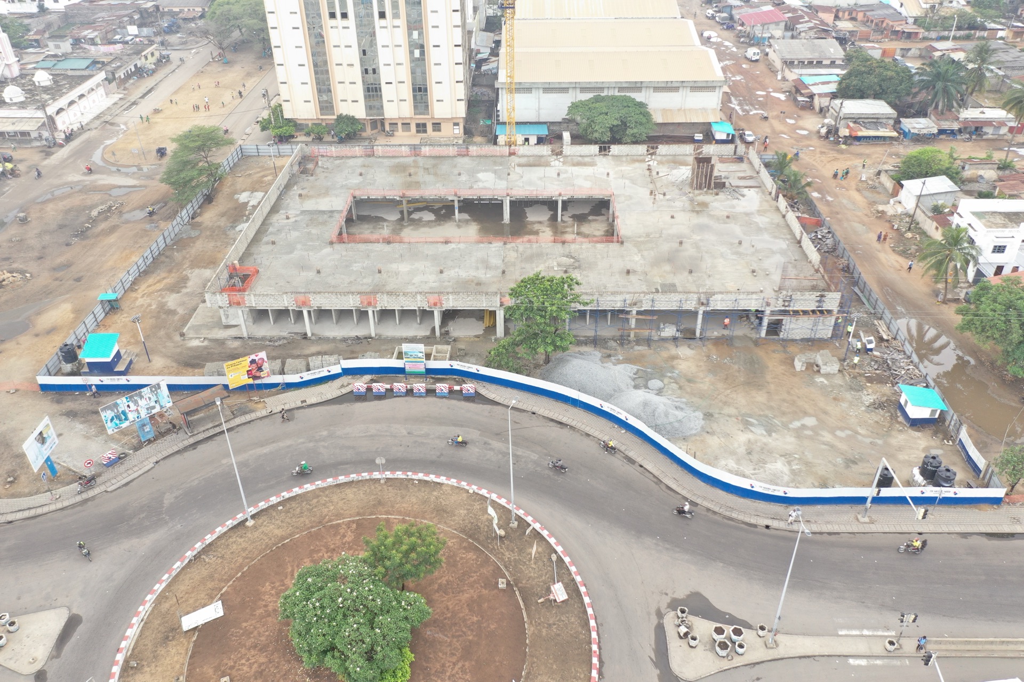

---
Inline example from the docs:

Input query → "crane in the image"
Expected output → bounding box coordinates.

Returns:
[492,0,530,155]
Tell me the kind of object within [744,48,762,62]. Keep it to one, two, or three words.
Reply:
vehicle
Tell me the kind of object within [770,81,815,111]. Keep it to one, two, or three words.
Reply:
shed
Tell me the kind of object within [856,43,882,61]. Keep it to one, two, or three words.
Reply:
house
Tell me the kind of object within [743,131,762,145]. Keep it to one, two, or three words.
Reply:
car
